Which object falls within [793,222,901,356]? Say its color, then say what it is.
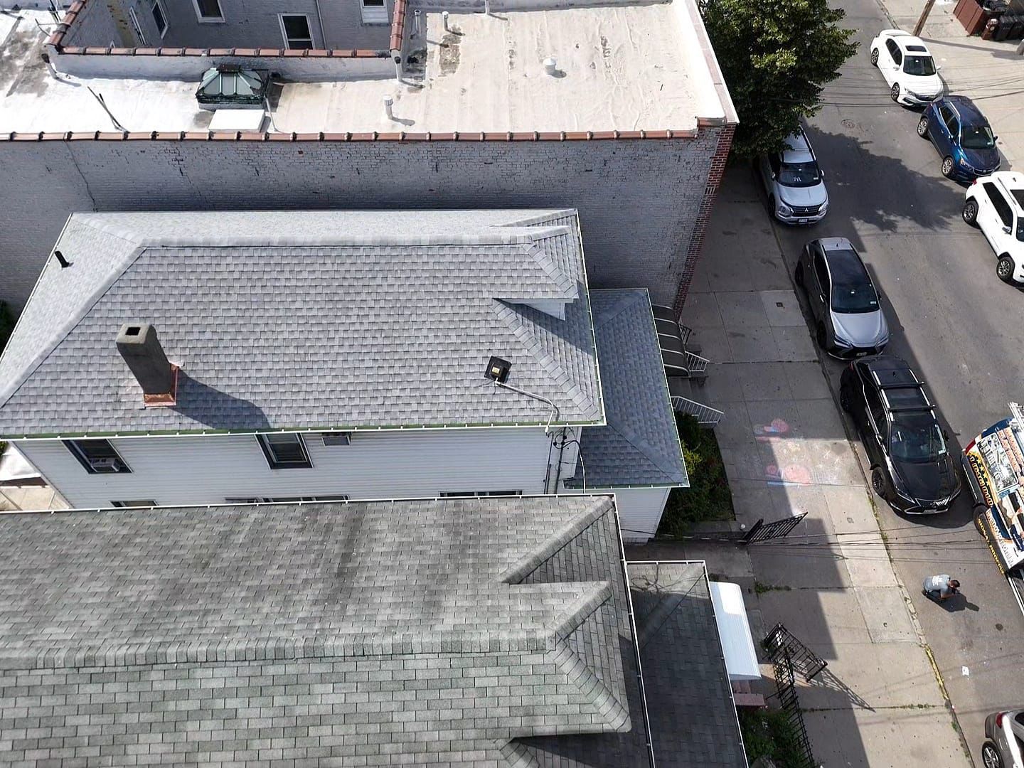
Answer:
black car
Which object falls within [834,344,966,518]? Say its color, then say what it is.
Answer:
black car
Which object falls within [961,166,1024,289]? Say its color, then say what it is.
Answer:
white car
